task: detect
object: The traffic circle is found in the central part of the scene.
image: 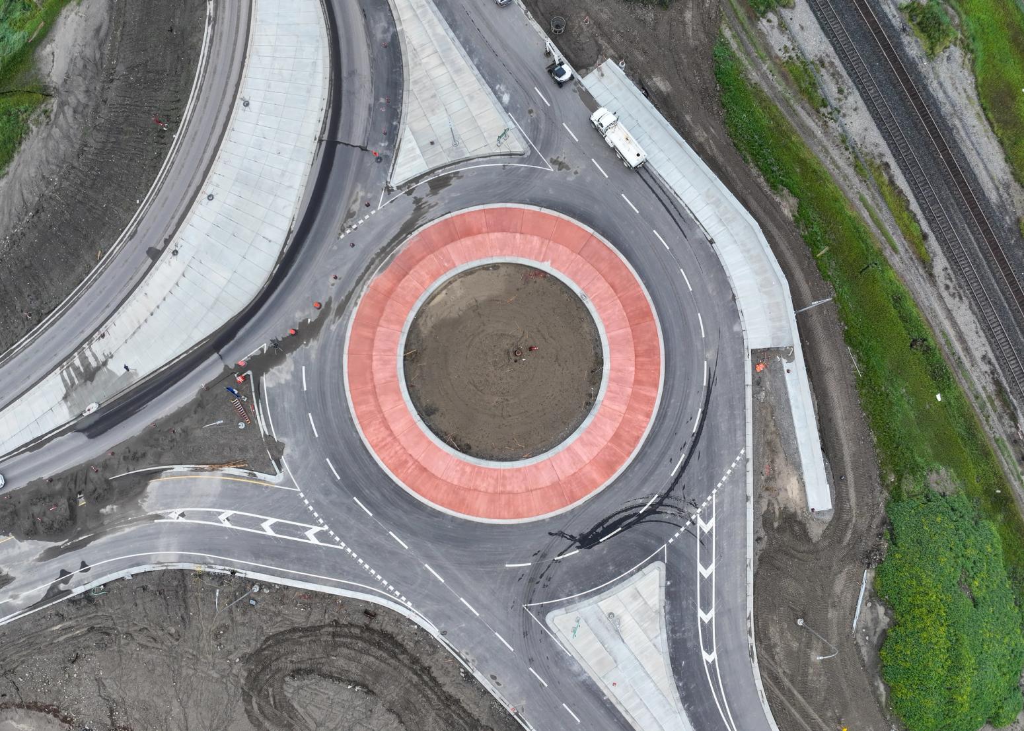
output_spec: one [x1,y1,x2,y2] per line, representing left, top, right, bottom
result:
[284,87,746,723]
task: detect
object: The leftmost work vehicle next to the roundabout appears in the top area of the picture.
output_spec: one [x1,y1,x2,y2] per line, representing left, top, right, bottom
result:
[546,36,575,89]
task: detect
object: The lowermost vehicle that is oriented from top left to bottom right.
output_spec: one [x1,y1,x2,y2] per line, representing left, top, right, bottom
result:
[589,110,646,173]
